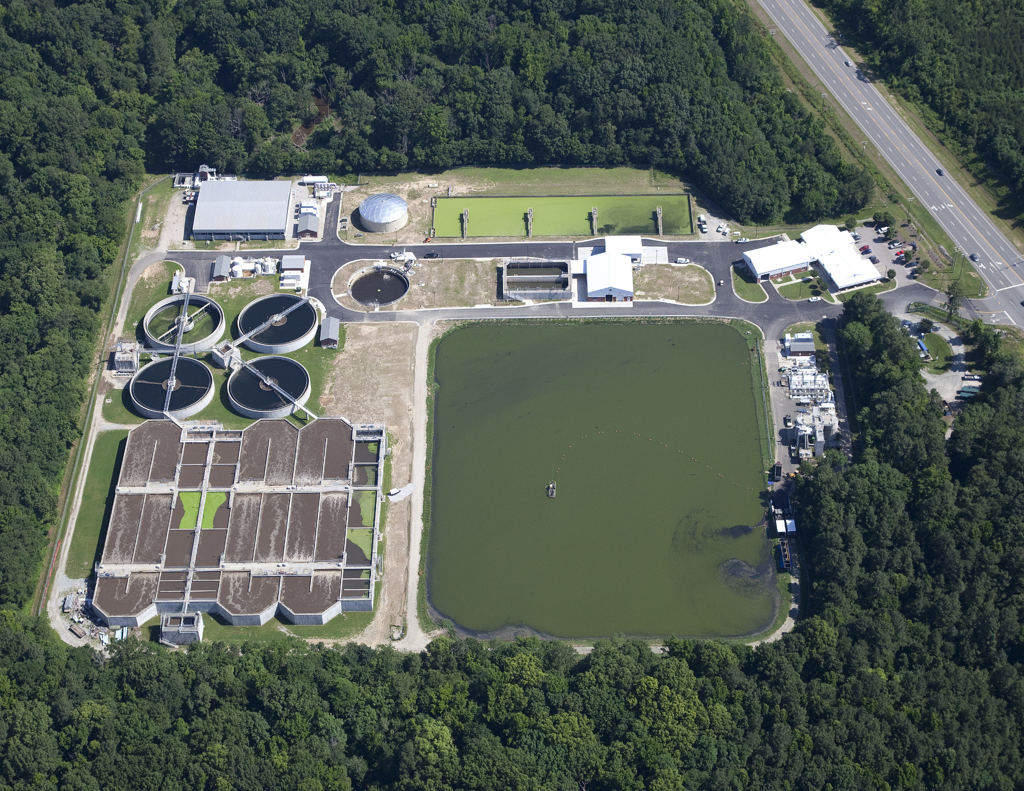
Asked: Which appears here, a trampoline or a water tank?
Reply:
water tank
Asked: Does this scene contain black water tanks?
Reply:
Yes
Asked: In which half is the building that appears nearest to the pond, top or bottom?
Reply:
top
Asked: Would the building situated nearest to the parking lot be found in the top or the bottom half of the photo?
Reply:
top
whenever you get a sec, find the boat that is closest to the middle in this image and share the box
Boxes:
[544,480,556,499]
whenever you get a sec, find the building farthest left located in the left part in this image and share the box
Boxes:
[109,338,142,377]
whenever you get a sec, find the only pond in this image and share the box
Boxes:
[430,191,695,237]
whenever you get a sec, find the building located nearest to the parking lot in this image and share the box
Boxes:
[800,225,881,293]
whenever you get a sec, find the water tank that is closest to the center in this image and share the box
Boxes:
[503,258,572,303]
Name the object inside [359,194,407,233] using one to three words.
storage tank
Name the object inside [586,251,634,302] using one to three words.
building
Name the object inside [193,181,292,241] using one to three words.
shed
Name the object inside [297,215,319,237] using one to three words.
building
